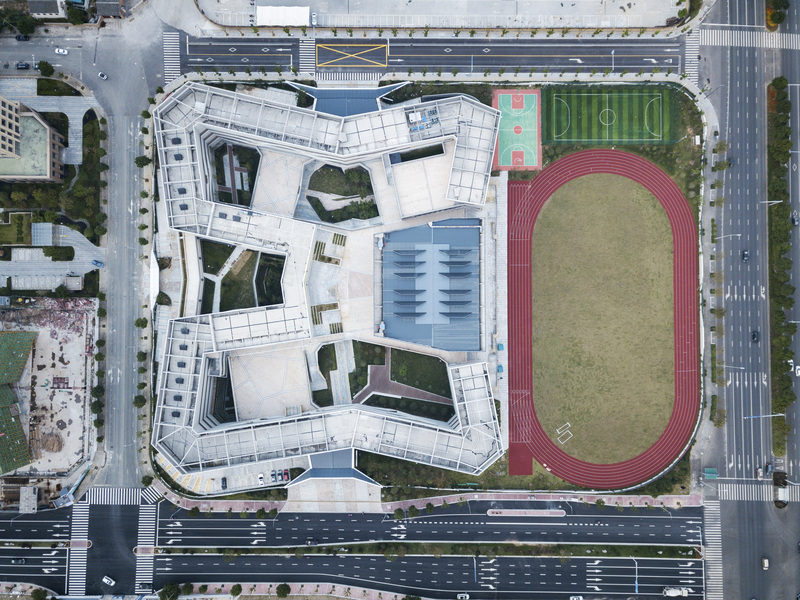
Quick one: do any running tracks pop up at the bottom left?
No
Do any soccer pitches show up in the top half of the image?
Yes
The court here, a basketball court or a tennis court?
basketball court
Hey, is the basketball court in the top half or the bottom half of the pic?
top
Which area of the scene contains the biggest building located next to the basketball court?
center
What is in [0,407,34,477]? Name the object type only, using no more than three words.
building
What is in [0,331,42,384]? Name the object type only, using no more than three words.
building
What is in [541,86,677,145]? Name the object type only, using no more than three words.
soccer field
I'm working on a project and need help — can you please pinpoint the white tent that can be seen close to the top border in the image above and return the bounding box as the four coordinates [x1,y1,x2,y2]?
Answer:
[256,6,312,30]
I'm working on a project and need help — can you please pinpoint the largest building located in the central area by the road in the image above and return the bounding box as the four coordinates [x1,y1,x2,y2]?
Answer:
[152,80,505,488]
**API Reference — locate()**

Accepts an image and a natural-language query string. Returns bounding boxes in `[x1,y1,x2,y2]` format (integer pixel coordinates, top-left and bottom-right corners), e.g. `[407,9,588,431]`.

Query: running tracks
[507,149,699,490]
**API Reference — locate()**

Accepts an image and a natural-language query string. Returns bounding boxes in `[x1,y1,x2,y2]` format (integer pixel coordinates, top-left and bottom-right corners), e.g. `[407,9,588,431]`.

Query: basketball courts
[493,89,542,170]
